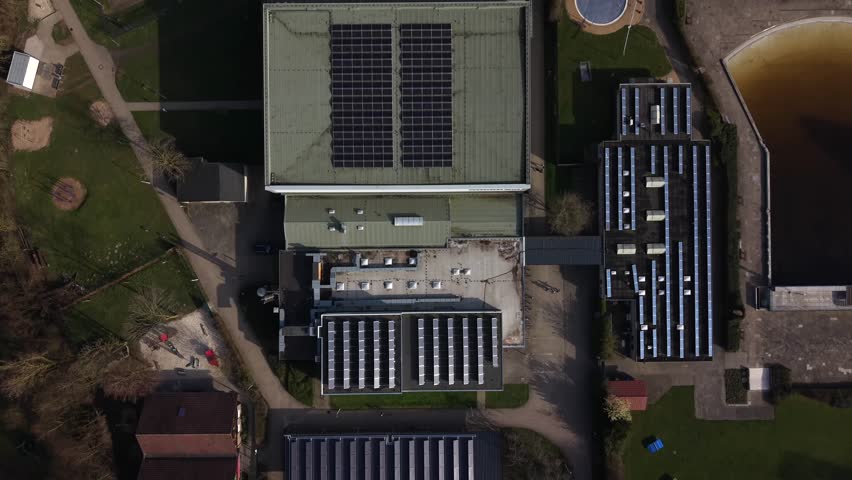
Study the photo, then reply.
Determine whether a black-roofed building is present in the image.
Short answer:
Yes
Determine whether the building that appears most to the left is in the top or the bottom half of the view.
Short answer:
top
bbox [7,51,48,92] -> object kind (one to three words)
building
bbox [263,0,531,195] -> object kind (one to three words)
building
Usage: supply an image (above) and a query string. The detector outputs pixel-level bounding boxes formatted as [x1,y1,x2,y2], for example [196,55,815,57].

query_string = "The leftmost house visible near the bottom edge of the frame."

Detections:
[133,388,243,480]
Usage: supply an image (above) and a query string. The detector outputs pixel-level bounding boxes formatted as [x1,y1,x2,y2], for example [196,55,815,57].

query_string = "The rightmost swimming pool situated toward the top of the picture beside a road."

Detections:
[725,14,852,287]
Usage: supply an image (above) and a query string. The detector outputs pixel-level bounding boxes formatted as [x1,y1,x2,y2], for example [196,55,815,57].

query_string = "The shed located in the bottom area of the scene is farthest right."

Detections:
[743,365,770,390]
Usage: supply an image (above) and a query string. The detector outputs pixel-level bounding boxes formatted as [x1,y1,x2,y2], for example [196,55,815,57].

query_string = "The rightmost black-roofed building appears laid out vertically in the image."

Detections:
[595,78,714,360]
